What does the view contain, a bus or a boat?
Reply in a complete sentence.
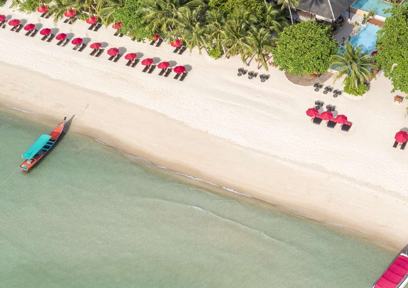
This aerial view contains a boat.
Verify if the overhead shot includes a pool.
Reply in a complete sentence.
Yes, a pool appears in the view.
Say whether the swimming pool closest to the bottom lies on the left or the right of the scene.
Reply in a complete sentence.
The swimming pool closest to the bottom appears in the right half of the scene.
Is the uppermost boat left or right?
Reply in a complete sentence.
It is on the left.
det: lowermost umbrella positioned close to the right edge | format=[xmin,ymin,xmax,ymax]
[393,131,408,148]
